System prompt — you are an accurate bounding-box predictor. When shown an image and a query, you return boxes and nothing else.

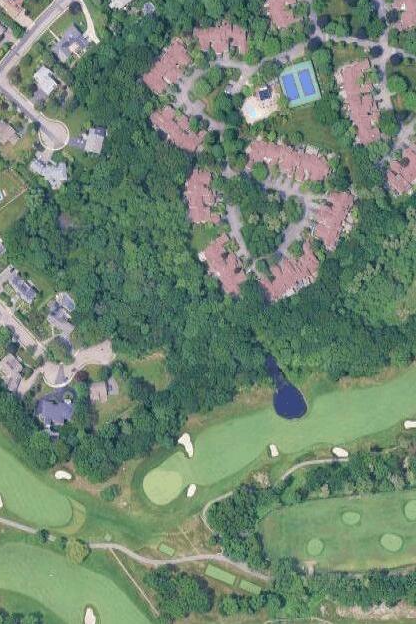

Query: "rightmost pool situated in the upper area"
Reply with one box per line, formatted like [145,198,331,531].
[241,95,278,124]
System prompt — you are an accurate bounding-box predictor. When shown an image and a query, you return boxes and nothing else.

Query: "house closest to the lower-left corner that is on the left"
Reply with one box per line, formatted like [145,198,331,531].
[36,400,75,427]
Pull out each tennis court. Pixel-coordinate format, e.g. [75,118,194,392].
[296,64,321,103]
[279,68,305,107]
